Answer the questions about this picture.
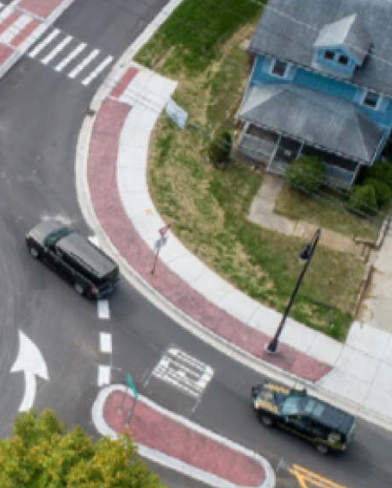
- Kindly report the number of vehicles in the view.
2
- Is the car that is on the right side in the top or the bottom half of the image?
bottom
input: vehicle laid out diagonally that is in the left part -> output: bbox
[20,214,124,297]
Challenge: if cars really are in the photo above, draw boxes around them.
[20,214,124,297]
[248,376,367,461]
